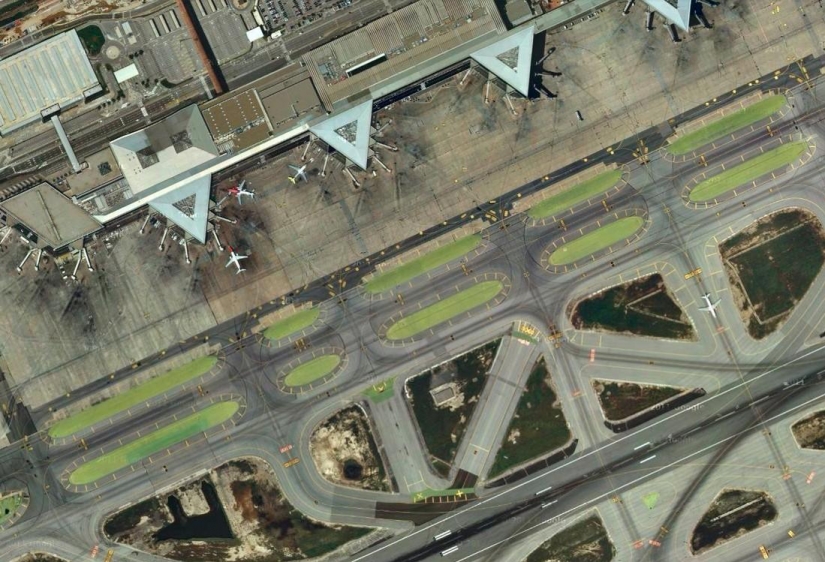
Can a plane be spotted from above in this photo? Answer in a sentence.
Yes, there's a plane down there.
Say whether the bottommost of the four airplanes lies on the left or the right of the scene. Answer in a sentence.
The bottommost of the four airplanes appears in the right half of the scene.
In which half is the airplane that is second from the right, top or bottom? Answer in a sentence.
The airplane that is second from the right sits in the top half of the picture.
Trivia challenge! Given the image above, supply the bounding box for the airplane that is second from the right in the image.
[287,164,307,185]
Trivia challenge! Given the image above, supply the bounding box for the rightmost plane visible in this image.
[698,292,721,318]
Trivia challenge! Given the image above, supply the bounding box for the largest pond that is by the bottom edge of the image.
[154,481,234,540]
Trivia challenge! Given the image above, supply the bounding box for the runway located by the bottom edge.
[334,337,825,562]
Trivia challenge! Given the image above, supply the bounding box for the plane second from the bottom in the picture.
[225,246,247,273]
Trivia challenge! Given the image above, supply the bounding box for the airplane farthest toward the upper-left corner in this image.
[228,180,254,205]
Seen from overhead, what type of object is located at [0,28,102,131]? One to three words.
hangar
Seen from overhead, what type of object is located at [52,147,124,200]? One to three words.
building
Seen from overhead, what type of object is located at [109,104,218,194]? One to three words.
building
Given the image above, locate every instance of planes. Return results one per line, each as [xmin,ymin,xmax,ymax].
[698,292,721,318]
[228,180,254,205]
[225,246,247,273]
[287,164,307,185]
